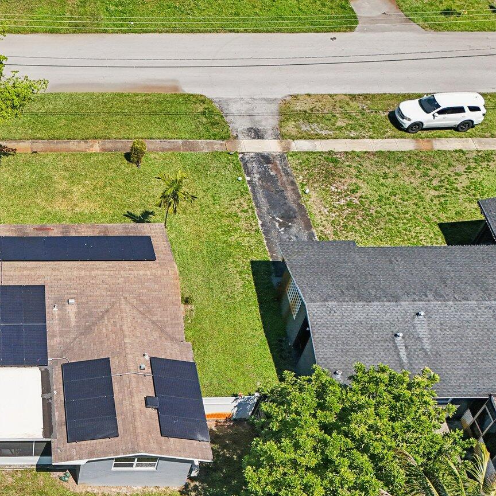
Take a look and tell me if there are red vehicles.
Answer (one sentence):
No, I can see no red vehicle in this picture.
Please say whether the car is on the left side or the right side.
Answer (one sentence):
The car is on the right side of the image.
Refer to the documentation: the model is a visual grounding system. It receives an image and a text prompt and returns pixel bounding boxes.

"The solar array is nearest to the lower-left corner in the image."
[62,358,118,442]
